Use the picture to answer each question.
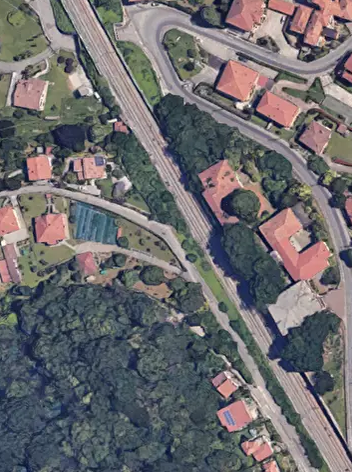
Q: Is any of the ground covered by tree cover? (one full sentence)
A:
Yes, there's tree cover in this view.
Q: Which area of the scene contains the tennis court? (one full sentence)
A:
Look in the left portion of the view to spot the tennis court.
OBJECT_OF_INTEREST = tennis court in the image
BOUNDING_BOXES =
[74,202,117,245]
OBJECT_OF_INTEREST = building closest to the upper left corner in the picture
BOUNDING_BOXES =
[14,78,49,110]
